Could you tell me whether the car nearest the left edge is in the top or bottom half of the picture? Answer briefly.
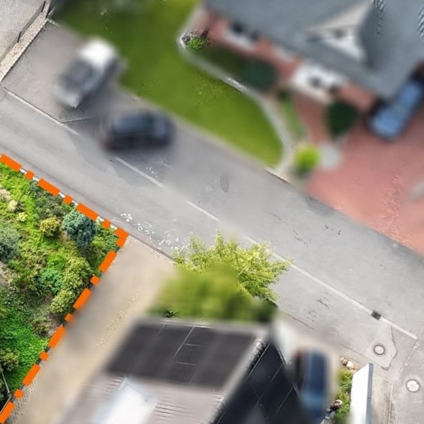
top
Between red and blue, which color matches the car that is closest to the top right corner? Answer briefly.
blue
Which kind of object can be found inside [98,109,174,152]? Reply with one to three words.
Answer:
car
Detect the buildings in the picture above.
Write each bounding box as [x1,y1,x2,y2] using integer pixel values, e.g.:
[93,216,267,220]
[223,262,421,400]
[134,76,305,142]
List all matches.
[64,317,314,424]
[187,0,424,115]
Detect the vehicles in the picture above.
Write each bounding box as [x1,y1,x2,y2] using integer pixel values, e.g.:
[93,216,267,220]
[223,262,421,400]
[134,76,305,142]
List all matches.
[98,109,174,152]
[368,74,424,137]
[287,341,341,423]
[59,37,123,107]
